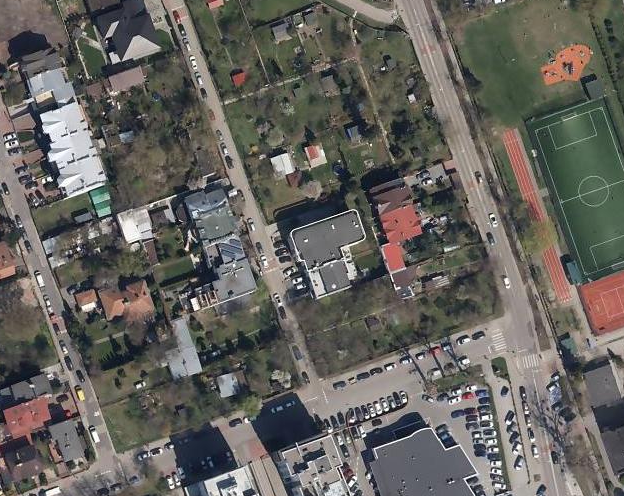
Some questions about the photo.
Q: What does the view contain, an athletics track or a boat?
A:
athletics track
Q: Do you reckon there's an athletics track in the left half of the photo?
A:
No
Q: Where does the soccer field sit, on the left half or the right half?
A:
right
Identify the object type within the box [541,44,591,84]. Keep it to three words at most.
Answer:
playground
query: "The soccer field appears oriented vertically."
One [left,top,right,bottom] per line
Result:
[527,97,624,284]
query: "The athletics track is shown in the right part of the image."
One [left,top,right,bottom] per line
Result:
[503,127,571,302]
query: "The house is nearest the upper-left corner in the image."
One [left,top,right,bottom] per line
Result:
[21,48,67,77]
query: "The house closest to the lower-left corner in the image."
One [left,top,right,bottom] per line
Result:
[0,437,45,481]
